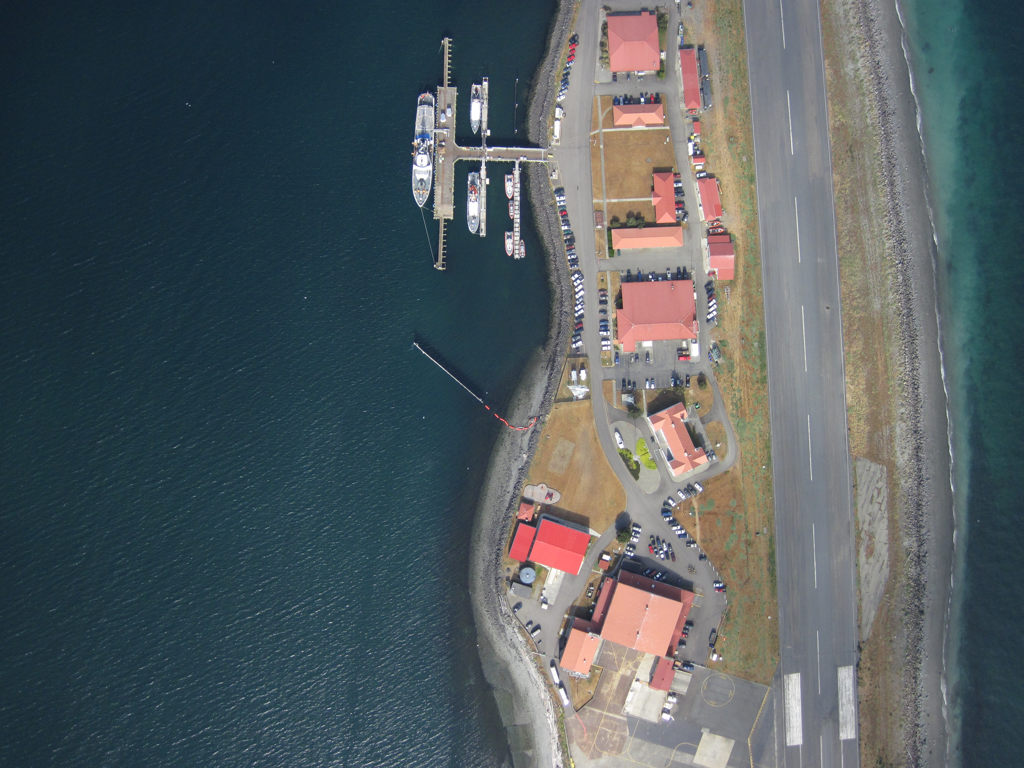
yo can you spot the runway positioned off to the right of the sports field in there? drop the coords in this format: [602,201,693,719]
[742,0,861,768]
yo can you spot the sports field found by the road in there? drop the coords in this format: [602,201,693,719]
[527,400,626,532]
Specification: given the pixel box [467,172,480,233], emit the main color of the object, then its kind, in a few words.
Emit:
white vessel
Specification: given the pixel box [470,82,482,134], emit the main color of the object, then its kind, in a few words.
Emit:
white vessel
